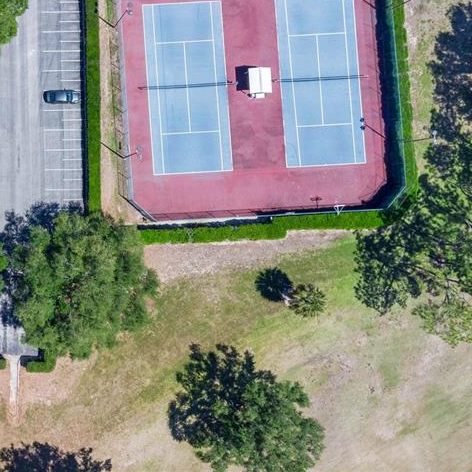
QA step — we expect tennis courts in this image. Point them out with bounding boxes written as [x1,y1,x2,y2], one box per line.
[142,0,232,175]
[275,0,366,167]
